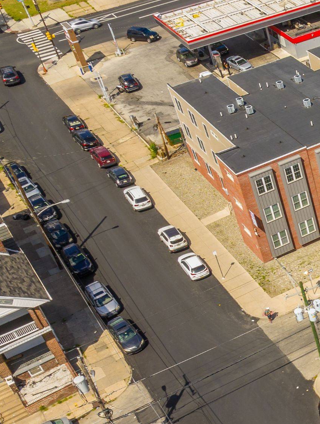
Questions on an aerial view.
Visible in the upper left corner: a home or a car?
car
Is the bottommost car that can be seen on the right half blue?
No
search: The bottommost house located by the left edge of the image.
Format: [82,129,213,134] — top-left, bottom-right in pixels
[0,250,73,424]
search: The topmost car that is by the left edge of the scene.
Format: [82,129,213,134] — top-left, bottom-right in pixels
[0,67,22,88]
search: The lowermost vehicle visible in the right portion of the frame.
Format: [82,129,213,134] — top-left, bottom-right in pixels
[178,254,212,285]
